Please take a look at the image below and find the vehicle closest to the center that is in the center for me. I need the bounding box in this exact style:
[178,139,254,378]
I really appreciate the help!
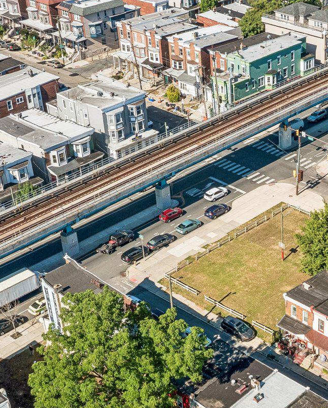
[156,208,184,224]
